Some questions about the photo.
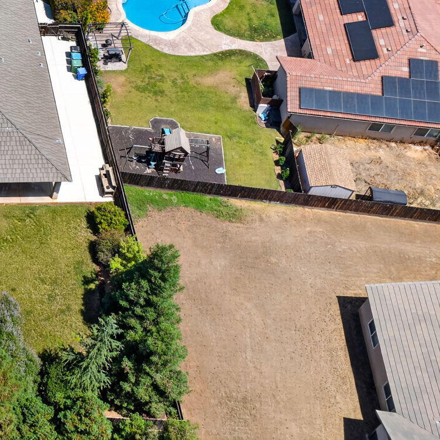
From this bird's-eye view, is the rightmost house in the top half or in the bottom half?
bottom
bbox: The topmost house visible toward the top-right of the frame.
[273,0,440,144]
